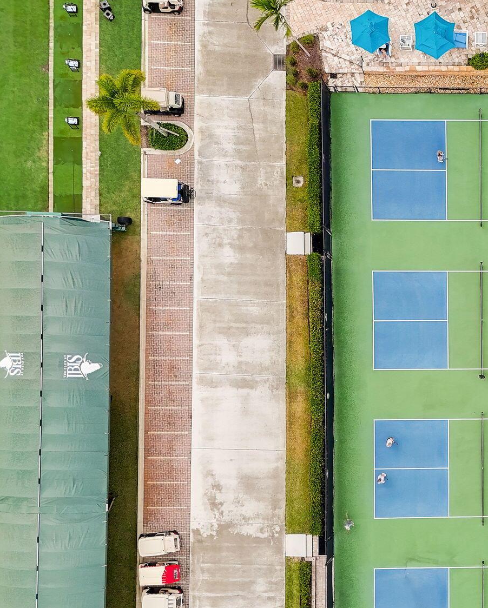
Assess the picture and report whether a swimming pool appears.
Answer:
No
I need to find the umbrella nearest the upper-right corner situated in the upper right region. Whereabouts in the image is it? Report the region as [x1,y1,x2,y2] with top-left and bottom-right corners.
[414,12,456,60]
